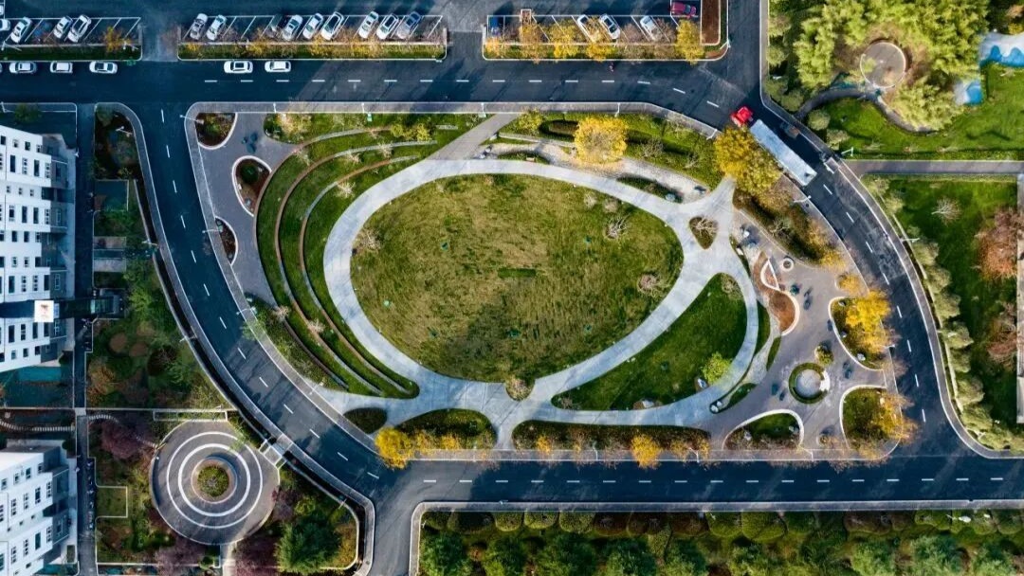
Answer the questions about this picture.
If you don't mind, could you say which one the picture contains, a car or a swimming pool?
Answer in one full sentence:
There is a car in the scene.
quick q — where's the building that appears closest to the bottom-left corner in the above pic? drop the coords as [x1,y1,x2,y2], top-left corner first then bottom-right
[0,448,71,576]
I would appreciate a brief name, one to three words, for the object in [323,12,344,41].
car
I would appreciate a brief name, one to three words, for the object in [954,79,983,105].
playground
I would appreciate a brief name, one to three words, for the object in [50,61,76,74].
vehicle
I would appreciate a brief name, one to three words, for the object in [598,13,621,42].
car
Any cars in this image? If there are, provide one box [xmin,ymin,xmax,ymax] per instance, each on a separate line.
[50,61,76,74]
[399,11,421,40]
[575,14,595,44]
[358,11,380,40]
[68,14,93,44]
[32,16,54,40]
[52,12,75,42]
[0,19,11,32]
[598,13,621,42]
[282,13,305,43]
[639,14,661,43]
[265,60,292,74]
[264,11,287,41]
[488,12,500,37]
[377,12,399,42]
[188,12,211,42]
[10,15,34,45]
[668,2,698,18]
[302,12,324,41]
[206,13,228,43]
[323,12,344,41]
[9,61,40,75]
[89,61,120,75]
[224,59,254,74]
